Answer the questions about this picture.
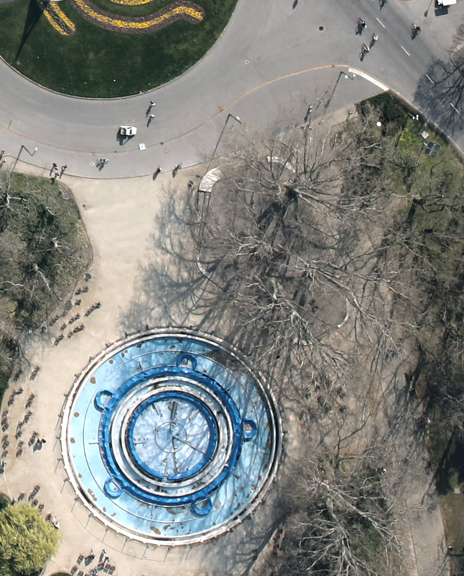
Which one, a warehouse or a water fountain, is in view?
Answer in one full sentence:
Of the two, only a water fountain appears.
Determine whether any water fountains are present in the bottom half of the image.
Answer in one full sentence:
Yes, you'll find a water fountain in the bottom half of the image.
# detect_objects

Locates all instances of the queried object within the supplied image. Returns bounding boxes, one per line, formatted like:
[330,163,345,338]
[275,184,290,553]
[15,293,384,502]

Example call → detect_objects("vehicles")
[117,125,135,136]
[438,0,456,5]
